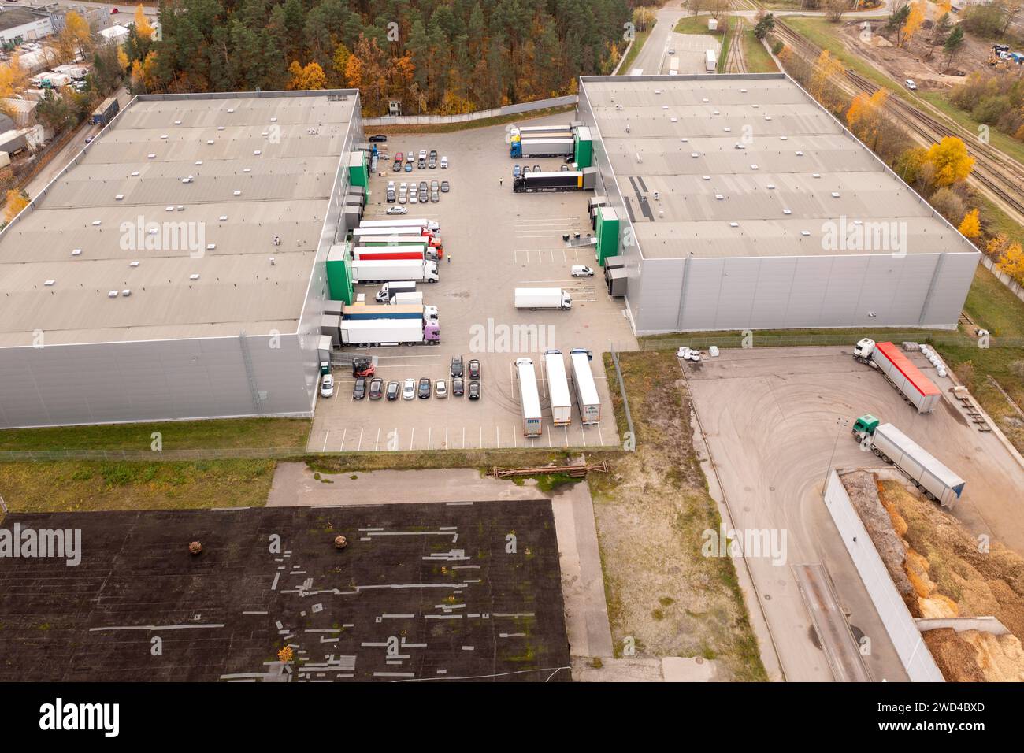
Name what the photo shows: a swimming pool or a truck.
truck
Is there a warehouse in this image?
Yes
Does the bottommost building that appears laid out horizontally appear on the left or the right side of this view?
left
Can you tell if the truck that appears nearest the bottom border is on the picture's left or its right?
right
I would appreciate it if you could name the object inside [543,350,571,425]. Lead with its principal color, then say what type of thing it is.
white truck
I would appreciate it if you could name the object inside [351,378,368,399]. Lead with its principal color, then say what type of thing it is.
gray car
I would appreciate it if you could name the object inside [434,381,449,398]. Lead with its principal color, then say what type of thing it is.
white car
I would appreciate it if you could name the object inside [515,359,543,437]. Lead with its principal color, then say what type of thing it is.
white truck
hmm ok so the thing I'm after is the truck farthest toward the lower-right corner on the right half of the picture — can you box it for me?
[856,421,966,509]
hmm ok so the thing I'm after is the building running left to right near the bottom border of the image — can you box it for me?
[0,499,580,753]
